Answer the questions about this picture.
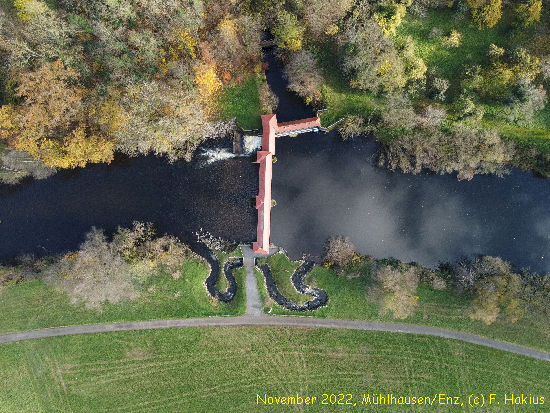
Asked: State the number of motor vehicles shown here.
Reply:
none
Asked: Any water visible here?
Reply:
Yes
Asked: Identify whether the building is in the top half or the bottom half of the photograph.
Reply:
top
